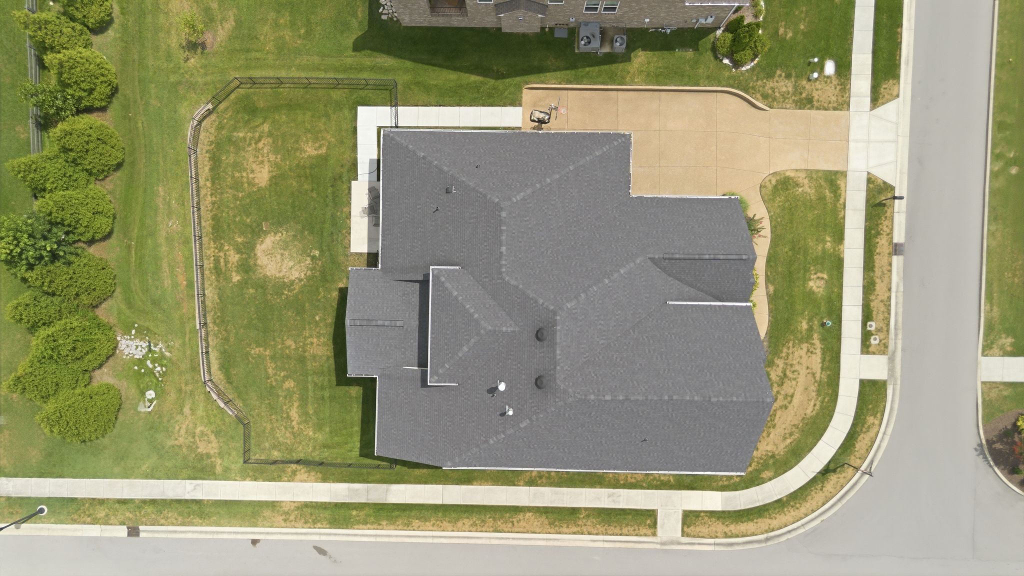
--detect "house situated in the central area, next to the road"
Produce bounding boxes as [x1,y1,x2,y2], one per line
[345,127,775,475]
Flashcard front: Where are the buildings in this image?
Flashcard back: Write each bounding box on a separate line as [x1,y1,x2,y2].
[382,0,749,32]
[345,127,775,475]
